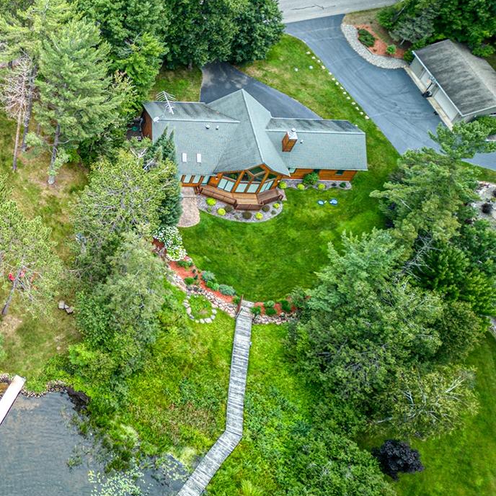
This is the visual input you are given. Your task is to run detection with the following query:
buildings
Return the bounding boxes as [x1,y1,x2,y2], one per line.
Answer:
[142,84,369,215]
[416,38,496,123]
